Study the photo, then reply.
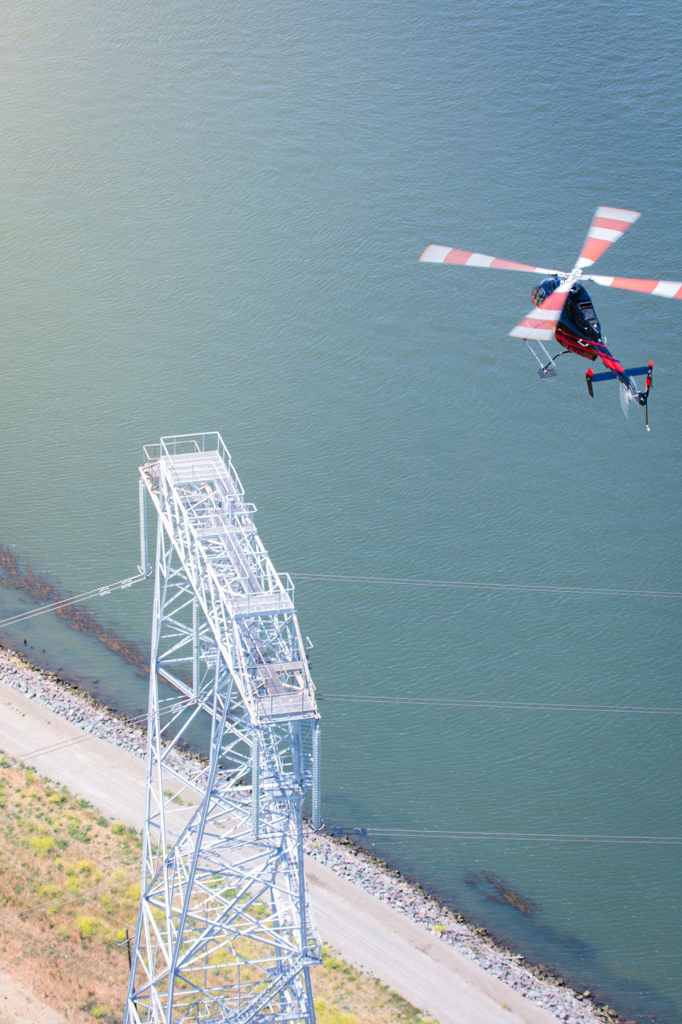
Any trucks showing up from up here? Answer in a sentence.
No, there isn't any truck down there.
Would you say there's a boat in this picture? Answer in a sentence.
No, this view has no boat in it.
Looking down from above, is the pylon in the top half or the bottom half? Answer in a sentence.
It is in the bottom half that the pylon appears.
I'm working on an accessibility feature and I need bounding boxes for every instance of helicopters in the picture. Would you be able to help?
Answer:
[422,207,682,437]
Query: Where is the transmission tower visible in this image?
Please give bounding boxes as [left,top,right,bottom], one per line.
[119,431,325,1024]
